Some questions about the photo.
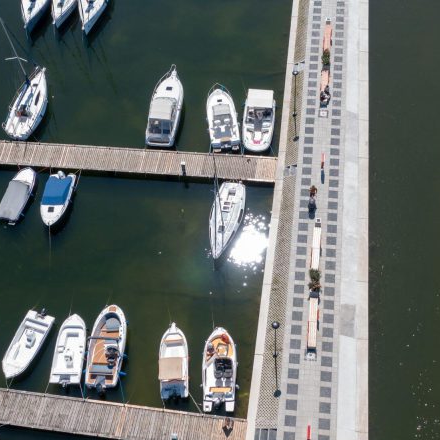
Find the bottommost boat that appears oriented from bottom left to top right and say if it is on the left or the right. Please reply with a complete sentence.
You can find the bottommost boat that appears oriented from bottom left to top right on the left side of the picture.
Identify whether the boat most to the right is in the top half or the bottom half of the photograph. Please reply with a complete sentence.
The top half of the photo is where the boat most to the right is.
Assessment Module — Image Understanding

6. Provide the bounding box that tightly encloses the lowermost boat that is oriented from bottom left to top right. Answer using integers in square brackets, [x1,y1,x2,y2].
[3,305,55,379]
